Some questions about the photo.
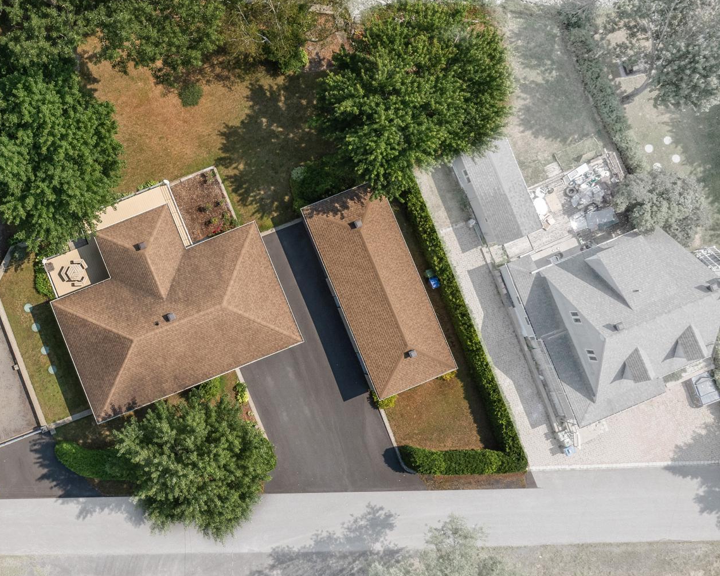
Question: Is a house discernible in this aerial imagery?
Yes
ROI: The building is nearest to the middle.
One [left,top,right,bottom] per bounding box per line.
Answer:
[294,181,450,401]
